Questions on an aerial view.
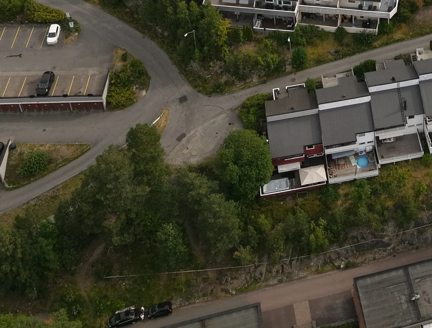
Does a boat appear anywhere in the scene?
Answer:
No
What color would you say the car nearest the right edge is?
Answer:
black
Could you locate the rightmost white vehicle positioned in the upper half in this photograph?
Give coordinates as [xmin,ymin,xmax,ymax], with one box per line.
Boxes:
[45,24,60,43]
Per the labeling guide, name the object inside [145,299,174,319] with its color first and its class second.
black car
